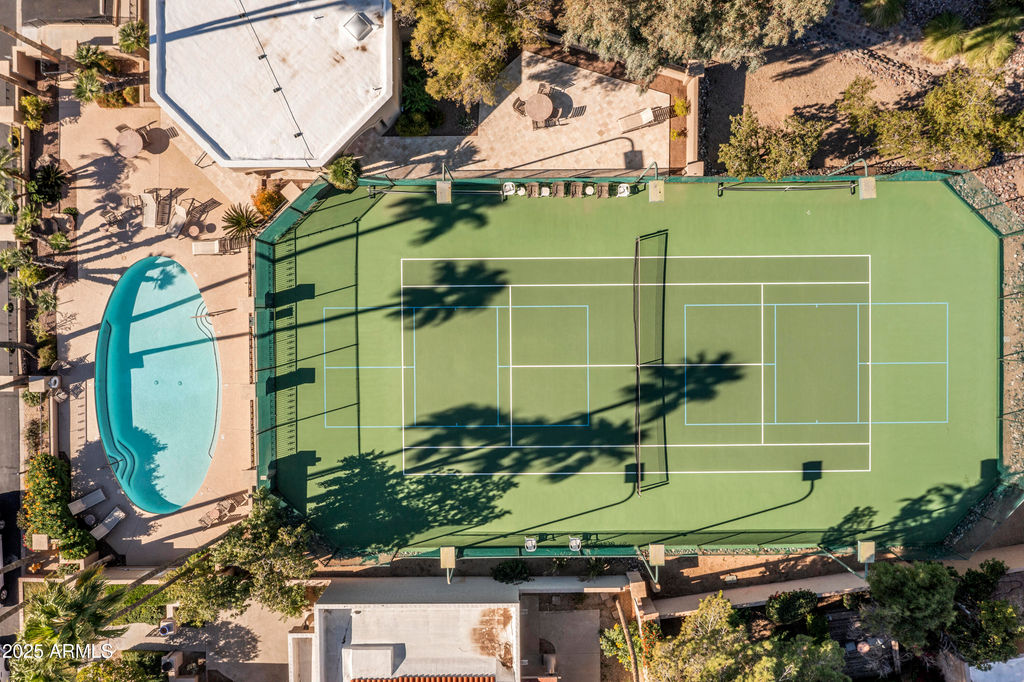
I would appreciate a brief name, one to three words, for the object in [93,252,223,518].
swimming pool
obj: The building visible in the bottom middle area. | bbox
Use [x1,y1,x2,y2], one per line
[315,577,526,682]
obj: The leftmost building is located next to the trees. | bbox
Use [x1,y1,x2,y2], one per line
[149,0,401,179]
